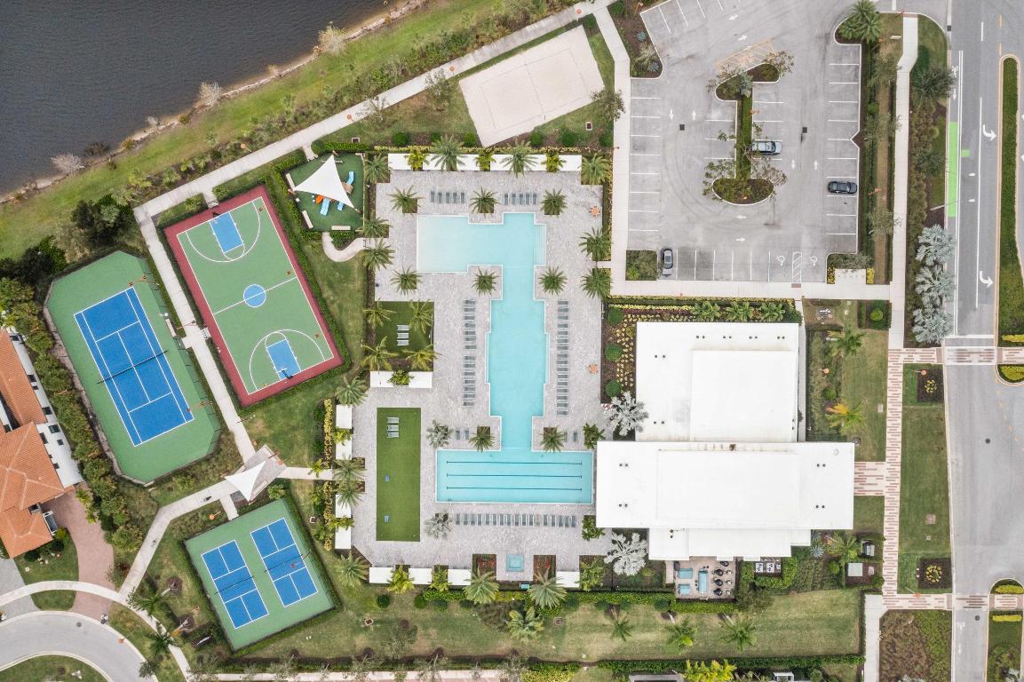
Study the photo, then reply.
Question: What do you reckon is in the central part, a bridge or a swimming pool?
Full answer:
Visible in the central part is a swimming pool.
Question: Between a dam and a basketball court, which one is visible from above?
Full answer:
This aerial view contains a basketball court.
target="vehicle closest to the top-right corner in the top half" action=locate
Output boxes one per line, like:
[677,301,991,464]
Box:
[825,181,856,194]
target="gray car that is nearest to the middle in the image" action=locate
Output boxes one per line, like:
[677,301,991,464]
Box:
[660,248,674,277]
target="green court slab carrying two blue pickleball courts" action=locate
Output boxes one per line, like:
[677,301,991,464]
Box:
[185,500,334,652]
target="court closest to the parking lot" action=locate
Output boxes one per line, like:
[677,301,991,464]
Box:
[460,25,603,147]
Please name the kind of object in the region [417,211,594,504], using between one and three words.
swimming pool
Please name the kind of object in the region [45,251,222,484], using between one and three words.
tennis court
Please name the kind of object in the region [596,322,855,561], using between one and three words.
building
